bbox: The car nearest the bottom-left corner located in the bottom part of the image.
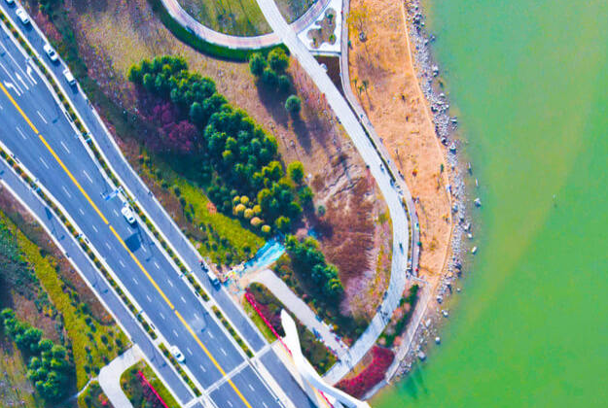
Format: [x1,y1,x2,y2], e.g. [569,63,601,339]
[169,344,184,362]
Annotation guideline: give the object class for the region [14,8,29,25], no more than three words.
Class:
car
